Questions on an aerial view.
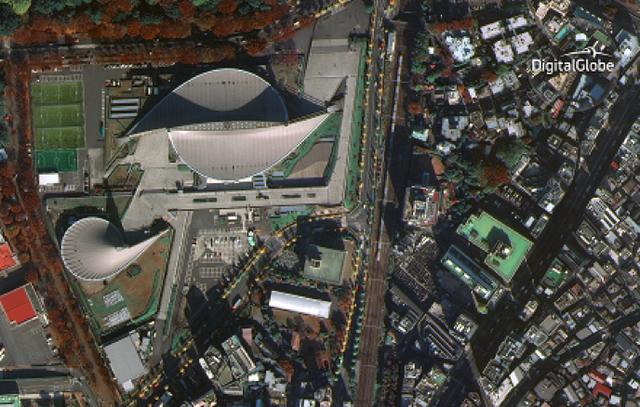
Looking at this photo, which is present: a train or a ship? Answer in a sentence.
It is a train that can be seen here.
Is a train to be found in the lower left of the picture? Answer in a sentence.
No, no train appears in the lower left of the picture.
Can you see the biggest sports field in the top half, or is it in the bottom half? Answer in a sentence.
Seen from above, the biggest sports field lies in the top half of the view.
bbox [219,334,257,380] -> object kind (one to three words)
building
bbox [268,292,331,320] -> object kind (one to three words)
building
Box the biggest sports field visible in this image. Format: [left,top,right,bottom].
[31,65,150,194]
